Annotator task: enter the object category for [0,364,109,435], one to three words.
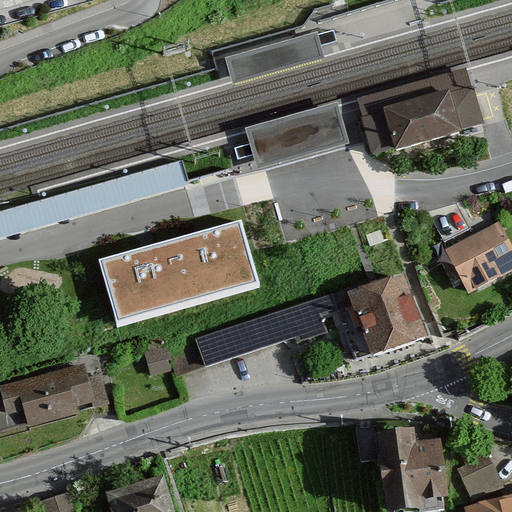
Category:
house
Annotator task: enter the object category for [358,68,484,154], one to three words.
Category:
train station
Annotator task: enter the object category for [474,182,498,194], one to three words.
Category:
vehicle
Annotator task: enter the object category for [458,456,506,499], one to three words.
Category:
building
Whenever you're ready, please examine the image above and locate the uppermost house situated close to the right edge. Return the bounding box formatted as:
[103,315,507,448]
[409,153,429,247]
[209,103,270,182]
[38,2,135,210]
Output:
[441,222,512,294]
